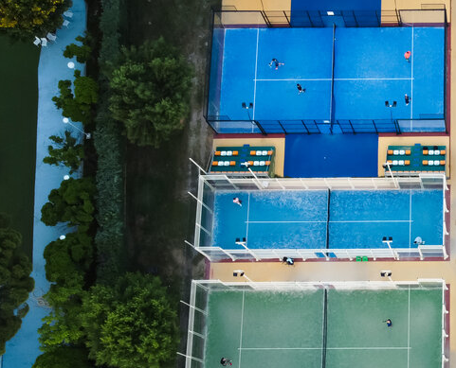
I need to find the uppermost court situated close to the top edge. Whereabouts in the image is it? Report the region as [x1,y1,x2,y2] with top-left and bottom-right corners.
[201,3,451,139]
